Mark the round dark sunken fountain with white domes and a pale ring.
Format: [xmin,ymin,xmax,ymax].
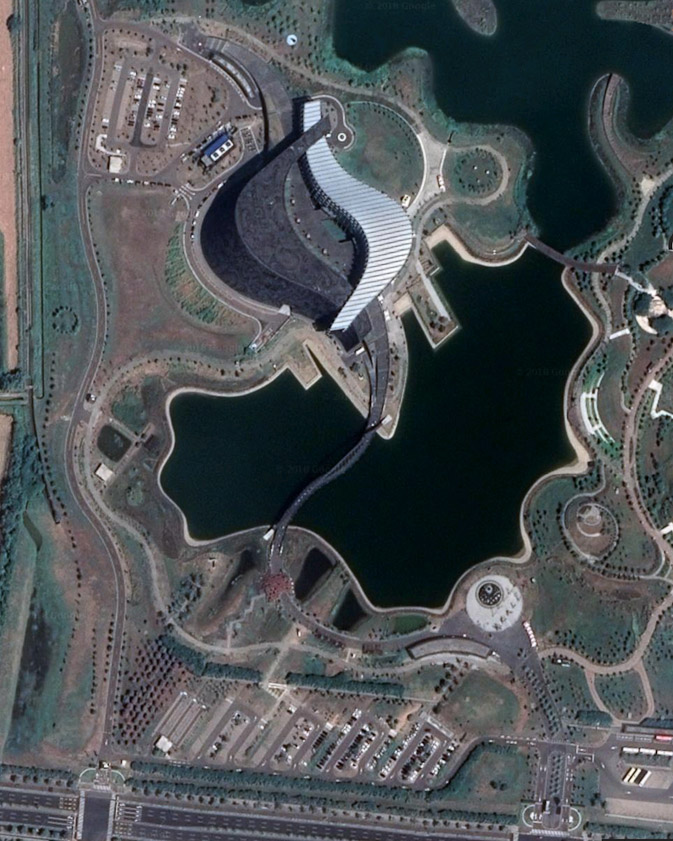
[476,579,505,608]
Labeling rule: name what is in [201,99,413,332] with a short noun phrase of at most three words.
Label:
building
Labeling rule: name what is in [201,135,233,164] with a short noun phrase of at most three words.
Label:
building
